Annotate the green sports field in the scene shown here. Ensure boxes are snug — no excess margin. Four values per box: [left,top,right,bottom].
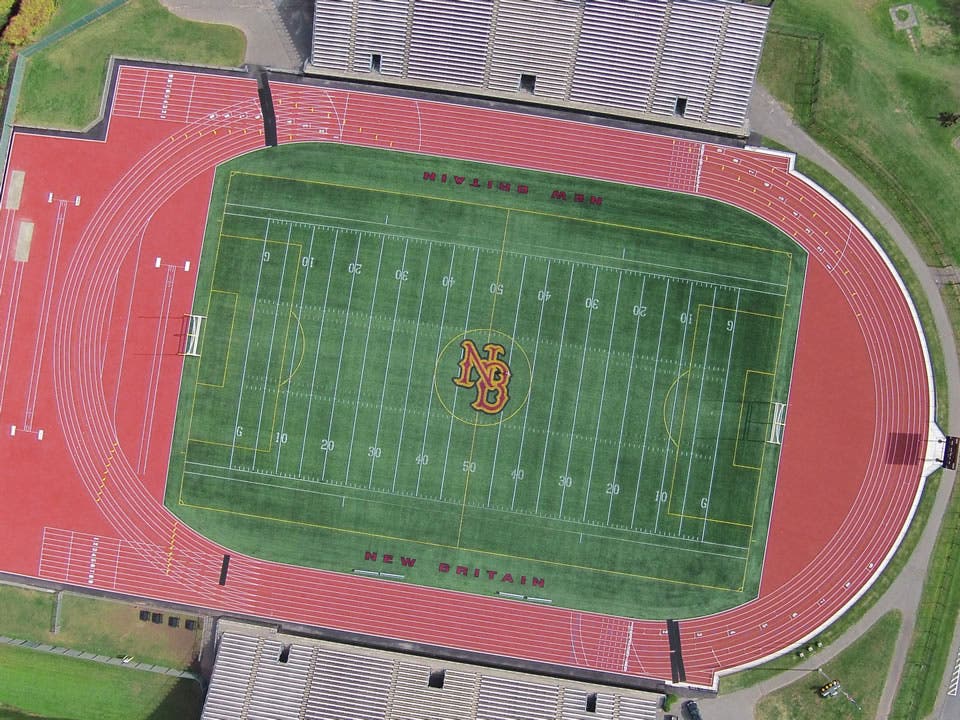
[163,140,809,622]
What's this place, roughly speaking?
sports ground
